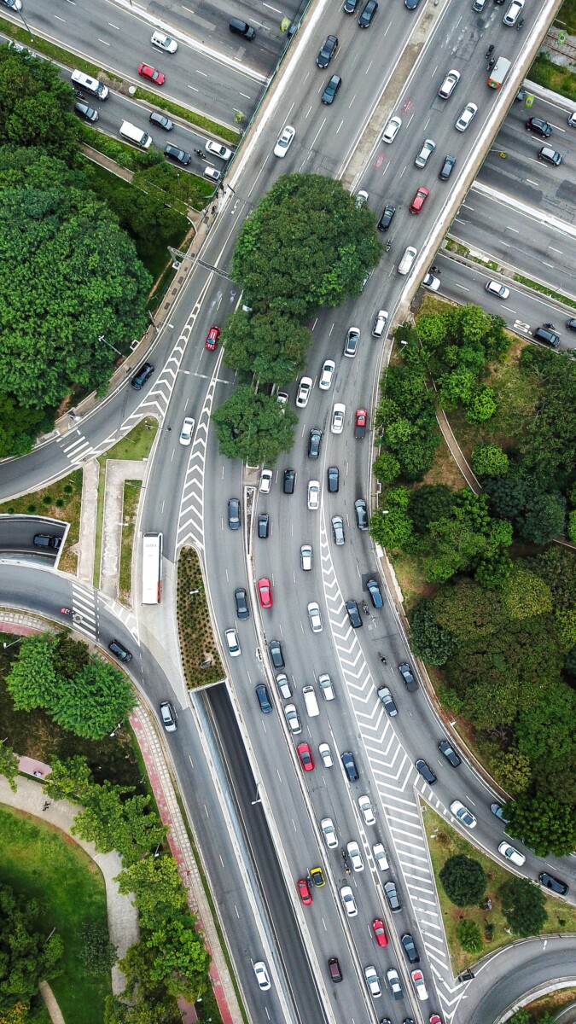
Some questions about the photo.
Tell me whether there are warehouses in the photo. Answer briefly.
No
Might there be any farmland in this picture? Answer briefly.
No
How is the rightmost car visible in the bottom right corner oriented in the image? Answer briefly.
diagonally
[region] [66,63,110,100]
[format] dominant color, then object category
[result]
white vehicle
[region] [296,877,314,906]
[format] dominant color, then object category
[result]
red car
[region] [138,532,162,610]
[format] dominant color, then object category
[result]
white bus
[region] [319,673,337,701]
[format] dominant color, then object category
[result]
white car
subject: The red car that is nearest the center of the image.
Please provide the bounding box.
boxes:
[257,578,272,609]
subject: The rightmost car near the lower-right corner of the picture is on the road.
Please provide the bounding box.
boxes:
[538,870,570,896]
